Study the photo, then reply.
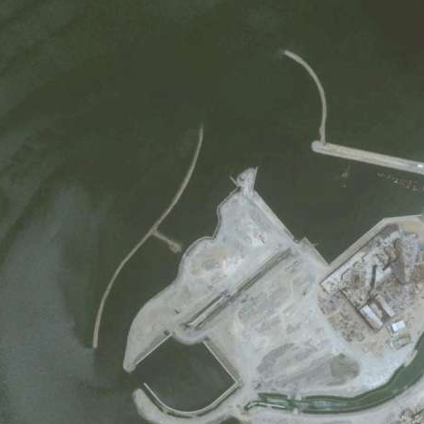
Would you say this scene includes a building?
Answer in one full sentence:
Yes, you can see a building in this photo.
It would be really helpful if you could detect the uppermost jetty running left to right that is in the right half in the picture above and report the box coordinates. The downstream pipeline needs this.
[313,142,424,174]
